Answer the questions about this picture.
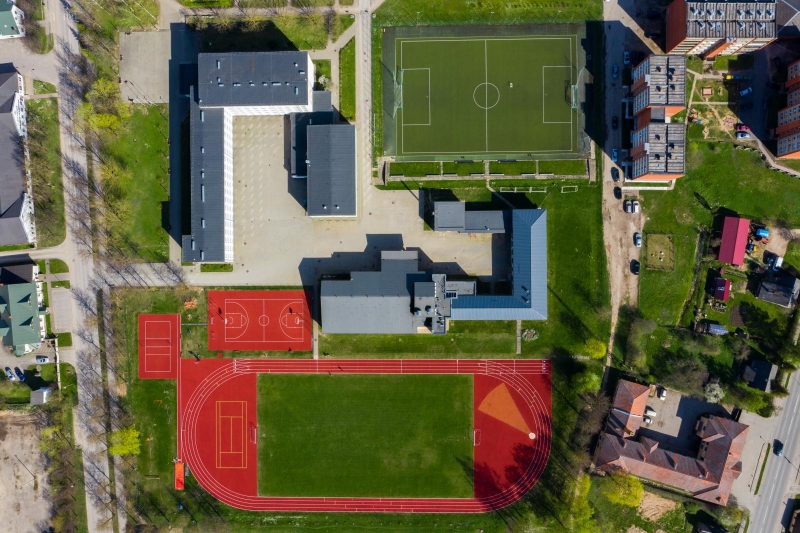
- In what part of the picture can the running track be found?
bottom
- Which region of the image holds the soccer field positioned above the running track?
top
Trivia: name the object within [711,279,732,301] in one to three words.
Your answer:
shed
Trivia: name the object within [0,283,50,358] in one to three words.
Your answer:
house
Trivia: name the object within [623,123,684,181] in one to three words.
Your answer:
building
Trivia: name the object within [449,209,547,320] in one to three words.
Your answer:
building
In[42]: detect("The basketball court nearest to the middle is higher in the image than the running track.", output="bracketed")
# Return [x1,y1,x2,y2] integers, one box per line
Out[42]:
[208,291,312,350]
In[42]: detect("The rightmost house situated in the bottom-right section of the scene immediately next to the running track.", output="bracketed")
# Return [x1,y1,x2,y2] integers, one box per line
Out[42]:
[592,378,749,506]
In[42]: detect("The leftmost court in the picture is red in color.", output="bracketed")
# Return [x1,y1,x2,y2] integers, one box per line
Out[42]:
[138,314,177,379]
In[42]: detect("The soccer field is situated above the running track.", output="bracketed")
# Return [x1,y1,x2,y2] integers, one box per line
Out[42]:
[384,24,586,161]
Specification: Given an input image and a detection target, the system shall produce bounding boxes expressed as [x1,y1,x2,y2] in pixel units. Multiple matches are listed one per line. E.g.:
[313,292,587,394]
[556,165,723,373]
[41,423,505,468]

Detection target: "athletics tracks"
[181,360,552,513]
